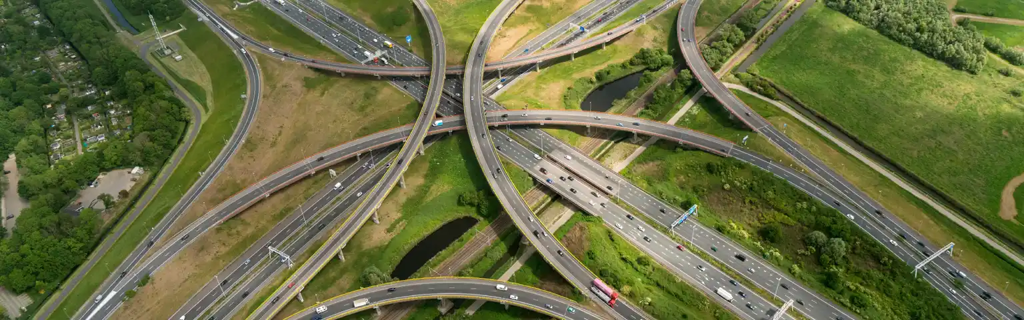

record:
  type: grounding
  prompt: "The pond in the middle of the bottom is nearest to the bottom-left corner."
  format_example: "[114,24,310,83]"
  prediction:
[391,216,477,279]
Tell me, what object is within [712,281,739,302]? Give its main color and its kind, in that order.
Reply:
white truck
